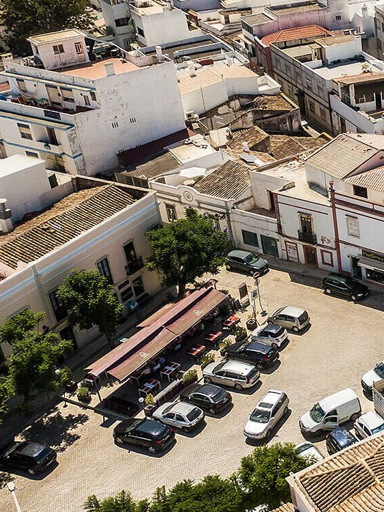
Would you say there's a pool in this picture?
No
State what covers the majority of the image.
buildings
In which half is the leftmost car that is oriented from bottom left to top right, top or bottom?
bottom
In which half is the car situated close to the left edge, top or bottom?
bottom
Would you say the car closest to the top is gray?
Yes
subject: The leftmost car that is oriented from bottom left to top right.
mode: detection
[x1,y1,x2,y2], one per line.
[238,384,297,436]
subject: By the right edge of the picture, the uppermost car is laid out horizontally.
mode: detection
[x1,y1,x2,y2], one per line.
[318,270,372,302]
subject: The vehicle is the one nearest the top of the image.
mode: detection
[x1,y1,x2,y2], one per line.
[224,247,268,274]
